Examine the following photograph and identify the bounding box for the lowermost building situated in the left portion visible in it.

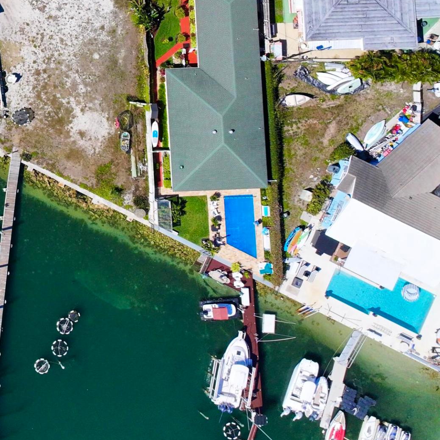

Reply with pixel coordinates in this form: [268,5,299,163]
[155,198,173,233]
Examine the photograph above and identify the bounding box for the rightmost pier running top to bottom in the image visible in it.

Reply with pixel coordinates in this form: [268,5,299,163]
[316,358,345,427]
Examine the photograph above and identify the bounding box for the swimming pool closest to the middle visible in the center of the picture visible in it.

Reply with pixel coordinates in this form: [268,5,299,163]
[221,191,261,264]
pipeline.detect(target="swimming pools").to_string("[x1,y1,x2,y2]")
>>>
[221,191,261,264]
[323,267,439,339]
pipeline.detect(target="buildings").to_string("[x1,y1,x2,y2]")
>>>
[162,0,268,192]
[317,119,440,291]
[155,198,173,233]
[293,0,440,50]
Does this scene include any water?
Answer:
Yes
